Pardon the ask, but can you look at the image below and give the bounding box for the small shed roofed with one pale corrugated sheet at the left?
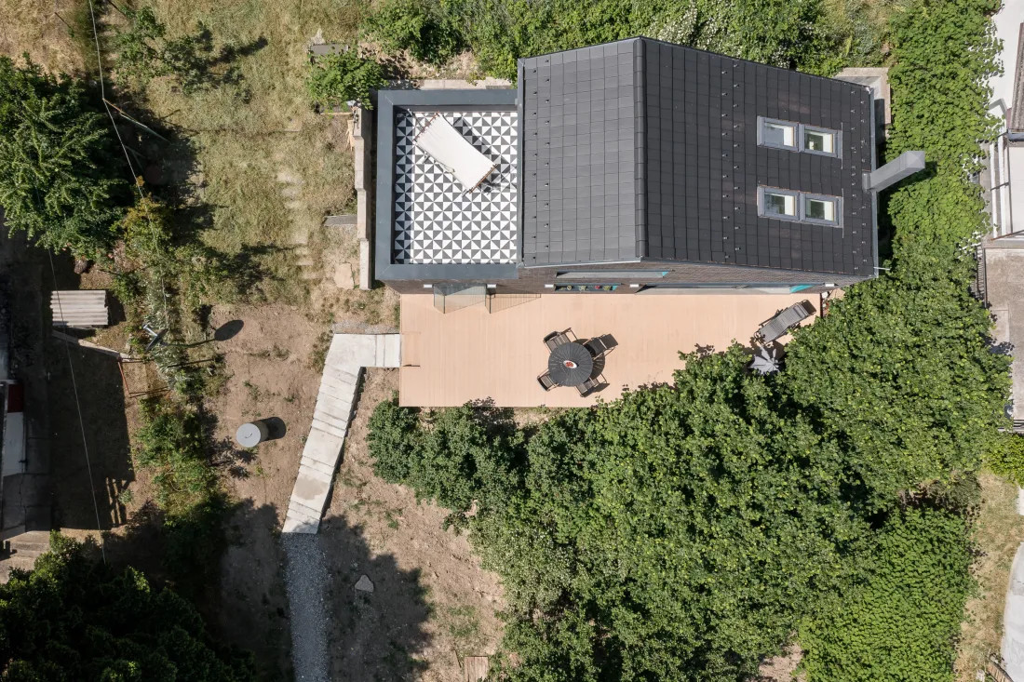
[50,290,136,330]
